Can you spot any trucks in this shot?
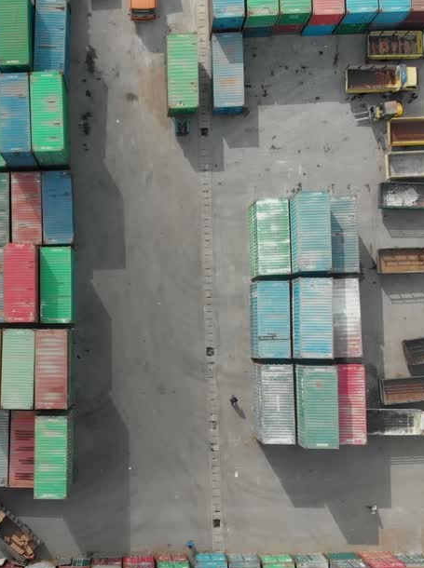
Yes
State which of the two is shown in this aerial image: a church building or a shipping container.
shipping container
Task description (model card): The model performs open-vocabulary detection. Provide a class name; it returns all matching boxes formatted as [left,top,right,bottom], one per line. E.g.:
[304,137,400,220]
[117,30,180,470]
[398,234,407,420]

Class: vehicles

[384,116,424,149]
[377,182,424,212]
[366,409,424,436]
[397,335,424,368]
[376,374,424,405]
[366,30,424,64]
[349,95,402,120]
[127,0,160,28]
[382,149,424,182]
[0,496,44,566]
[344,63,418,97]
